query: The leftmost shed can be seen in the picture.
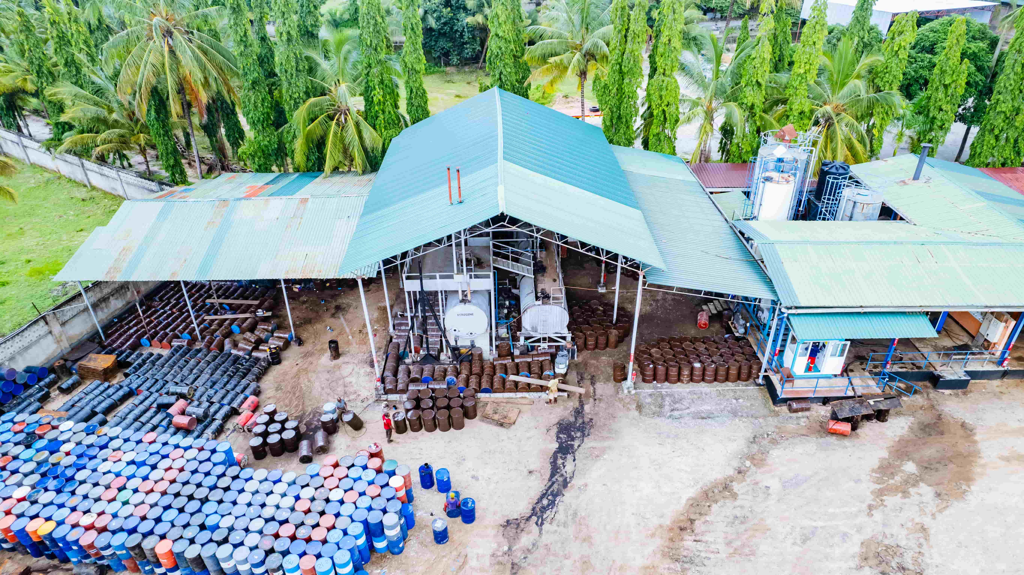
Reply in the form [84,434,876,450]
[54,171,393,341]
